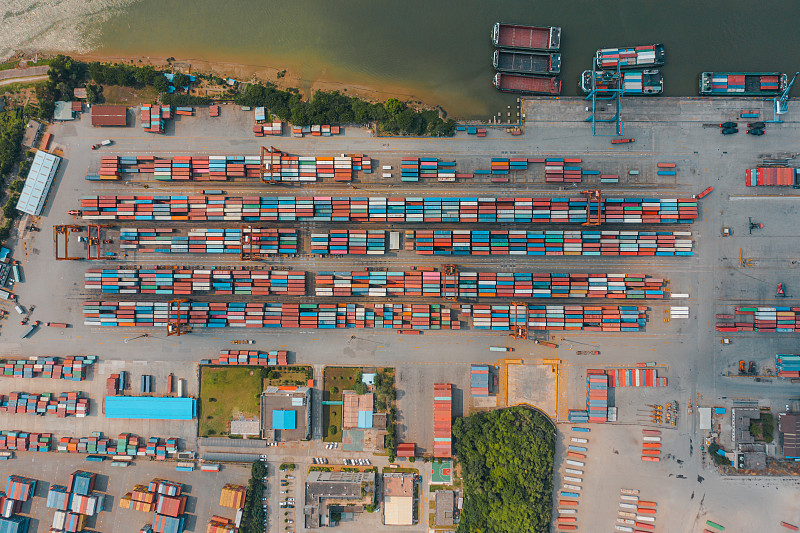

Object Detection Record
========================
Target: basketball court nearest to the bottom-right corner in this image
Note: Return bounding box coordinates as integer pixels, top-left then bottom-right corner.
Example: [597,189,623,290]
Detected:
[432,462,451,485]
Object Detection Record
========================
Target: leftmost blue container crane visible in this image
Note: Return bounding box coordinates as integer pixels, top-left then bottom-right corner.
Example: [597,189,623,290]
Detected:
[580,58,625,135]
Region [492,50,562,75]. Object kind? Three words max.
ship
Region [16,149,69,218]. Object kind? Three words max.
building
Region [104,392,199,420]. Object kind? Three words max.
shed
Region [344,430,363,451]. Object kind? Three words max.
sports court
